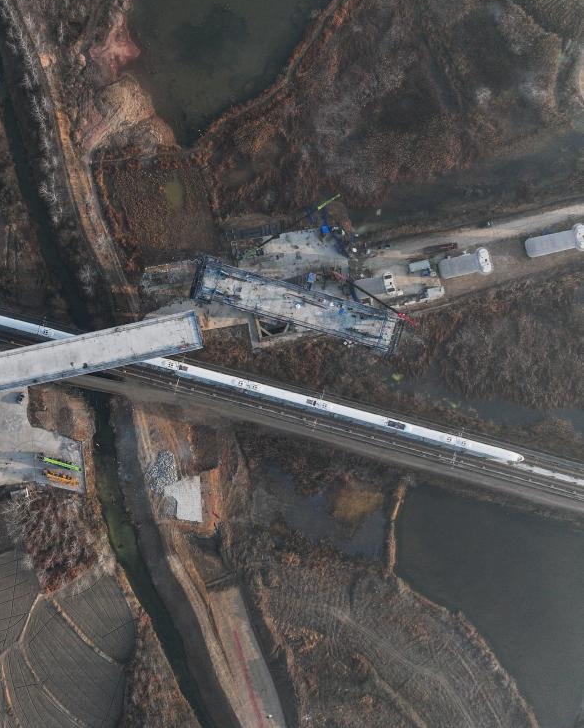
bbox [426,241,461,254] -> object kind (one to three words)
vehicle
